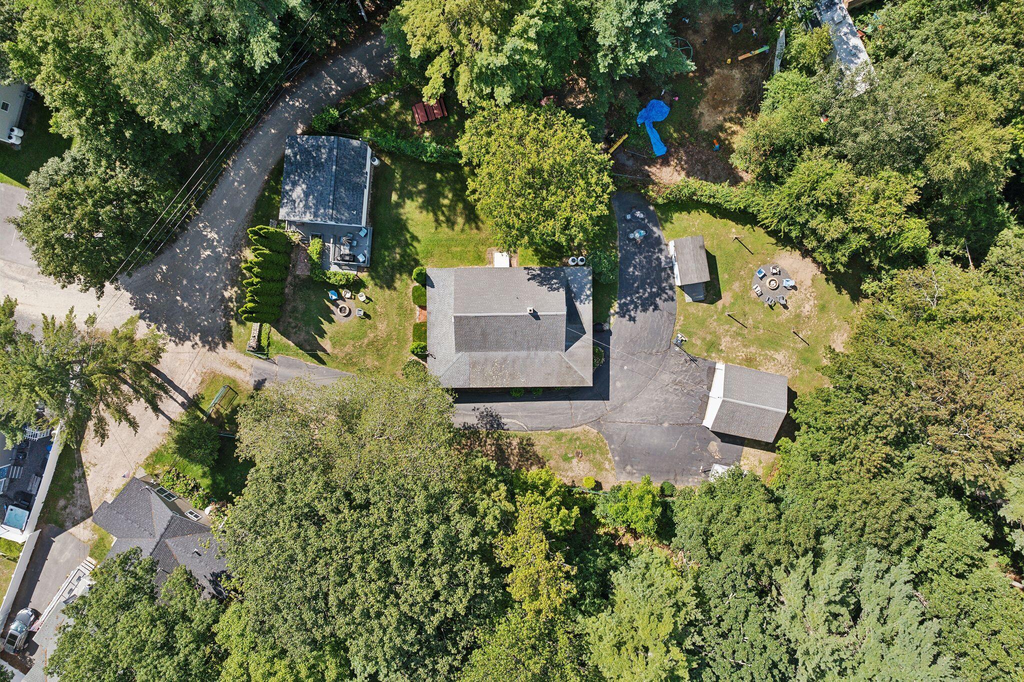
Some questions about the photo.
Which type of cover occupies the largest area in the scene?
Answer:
trees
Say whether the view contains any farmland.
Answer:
No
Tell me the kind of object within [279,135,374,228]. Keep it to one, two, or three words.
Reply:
house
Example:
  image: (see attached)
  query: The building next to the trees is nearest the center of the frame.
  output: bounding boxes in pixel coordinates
[427,252,593,388]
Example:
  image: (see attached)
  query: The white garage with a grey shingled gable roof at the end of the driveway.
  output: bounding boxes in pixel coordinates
[704,364,787,443]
